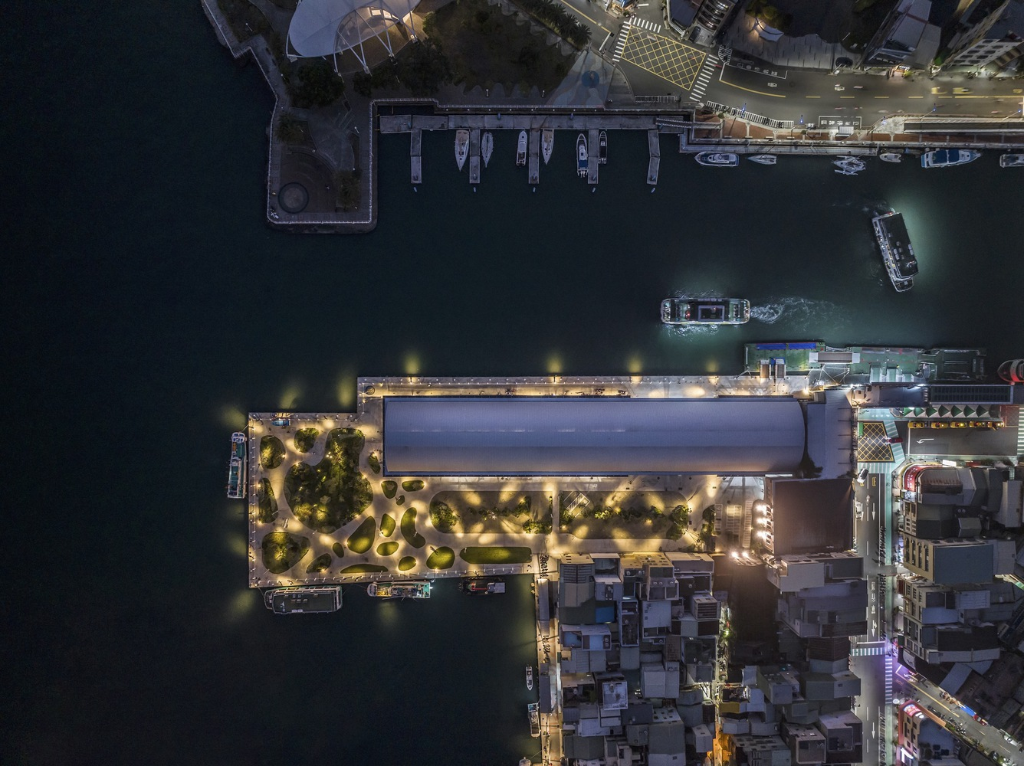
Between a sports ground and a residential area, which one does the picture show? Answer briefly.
residential area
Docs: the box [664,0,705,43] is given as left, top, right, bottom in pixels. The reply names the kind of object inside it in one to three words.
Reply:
house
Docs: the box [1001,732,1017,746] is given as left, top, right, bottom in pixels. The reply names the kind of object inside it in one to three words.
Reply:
car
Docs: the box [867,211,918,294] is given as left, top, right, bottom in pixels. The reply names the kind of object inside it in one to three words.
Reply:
vessel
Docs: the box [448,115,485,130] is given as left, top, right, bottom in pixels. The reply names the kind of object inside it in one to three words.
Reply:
pier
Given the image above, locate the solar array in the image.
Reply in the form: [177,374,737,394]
[932,387,1010,403]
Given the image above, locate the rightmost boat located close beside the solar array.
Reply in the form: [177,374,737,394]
[992,360,1024,383]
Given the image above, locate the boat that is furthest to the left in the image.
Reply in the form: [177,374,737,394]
[226,432,252,500]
